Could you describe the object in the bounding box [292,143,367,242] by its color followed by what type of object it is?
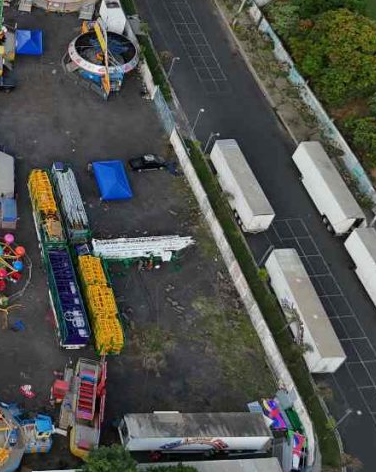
white trailer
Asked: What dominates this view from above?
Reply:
paved ground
